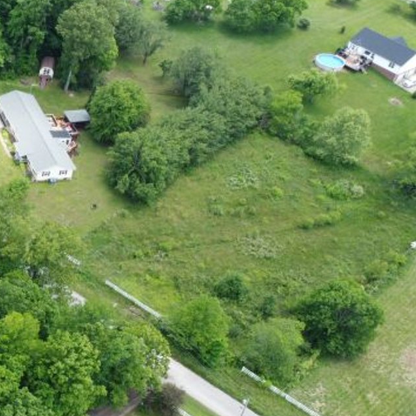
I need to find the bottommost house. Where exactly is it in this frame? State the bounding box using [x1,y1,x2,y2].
[0,86,95,180]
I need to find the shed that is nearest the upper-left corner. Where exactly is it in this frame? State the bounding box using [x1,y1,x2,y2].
[37,54,53,83]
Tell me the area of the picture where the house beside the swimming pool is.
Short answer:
top right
